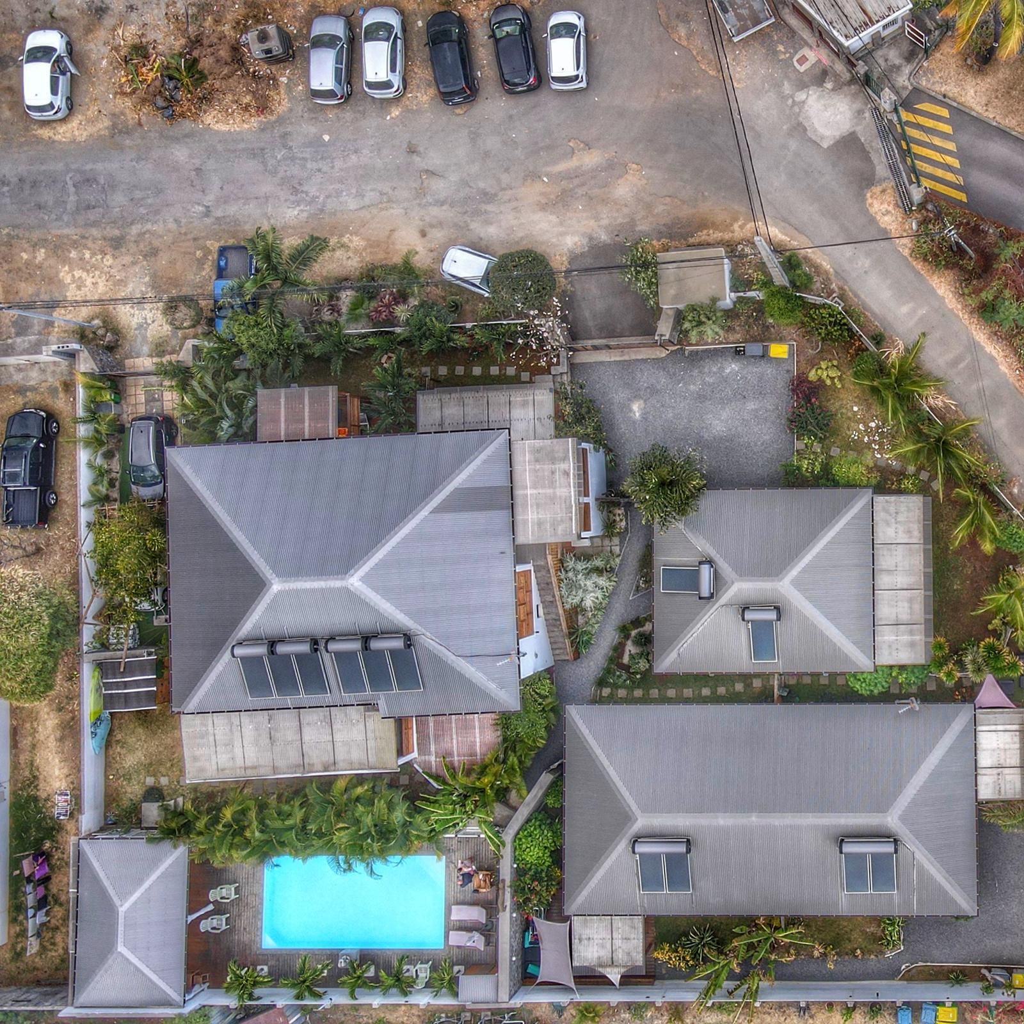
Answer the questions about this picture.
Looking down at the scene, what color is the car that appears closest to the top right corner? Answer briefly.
white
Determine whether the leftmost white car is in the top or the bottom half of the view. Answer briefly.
top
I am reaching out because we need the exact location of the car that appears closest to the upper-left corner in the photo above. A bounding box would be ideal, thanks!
[21,32,90,122]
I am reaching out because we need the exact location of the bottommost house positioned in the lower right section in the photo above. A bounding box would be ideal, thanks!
[561,701,1024,975]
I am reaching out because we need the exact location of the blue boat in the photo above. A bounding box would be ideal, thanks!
[91,711,108,756]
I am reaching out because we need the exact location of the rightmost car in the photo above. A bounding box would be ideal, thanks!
[543,11,589,92]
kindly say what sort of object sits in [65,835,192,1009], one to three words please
building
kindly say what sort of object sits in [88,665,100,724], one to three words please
boat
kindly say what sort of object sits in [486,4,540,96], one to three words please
car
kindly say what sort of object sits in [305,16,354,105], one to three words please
car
